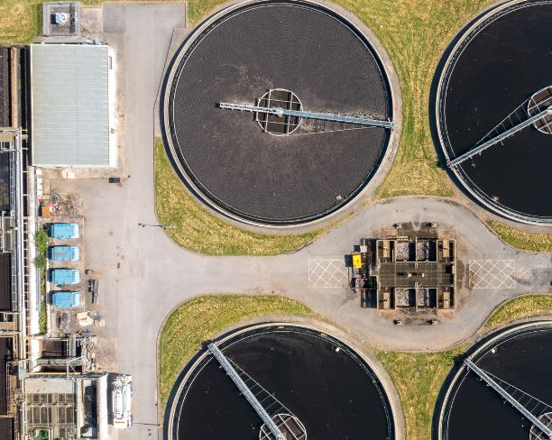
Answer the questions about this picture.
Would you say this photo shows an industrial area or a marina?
industrial area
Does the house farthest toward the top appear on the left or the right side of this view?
left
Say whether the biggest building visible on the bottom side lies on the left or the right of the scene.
right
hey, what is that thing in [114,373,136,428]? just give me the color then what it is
white truck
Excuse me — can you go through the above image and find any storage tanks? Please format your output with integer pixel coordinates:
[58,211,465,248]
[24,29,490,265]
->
[160,0,403,235]
[164,313,407,440]
[429,310,552,440]
[429,0,552,233]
